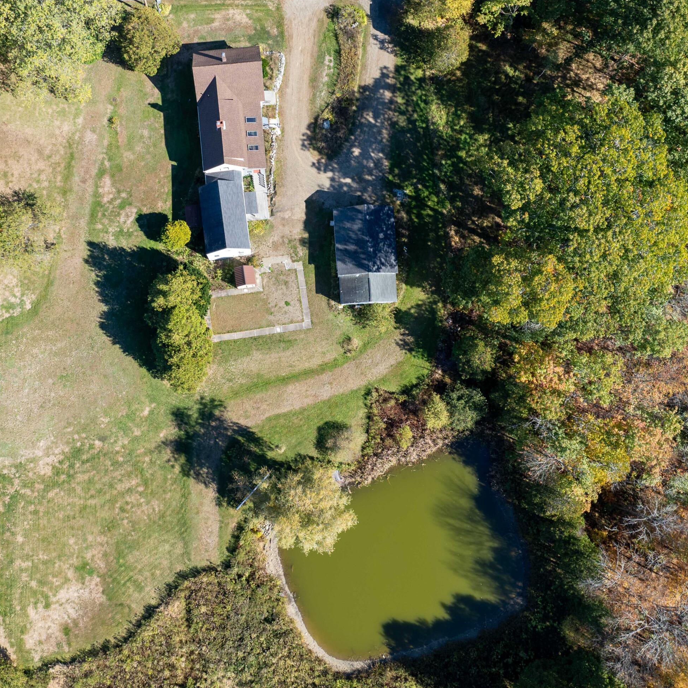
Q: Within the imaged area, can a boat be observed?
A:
No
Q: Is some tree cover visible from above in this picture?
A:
Yes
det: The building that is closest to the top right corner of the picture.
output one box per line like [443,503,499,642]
[333,204,398,306]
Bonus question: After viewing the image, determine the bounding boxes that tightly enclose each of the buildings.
[189,47,268,259]
[233,265,255,288]
[333,204,398,306]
